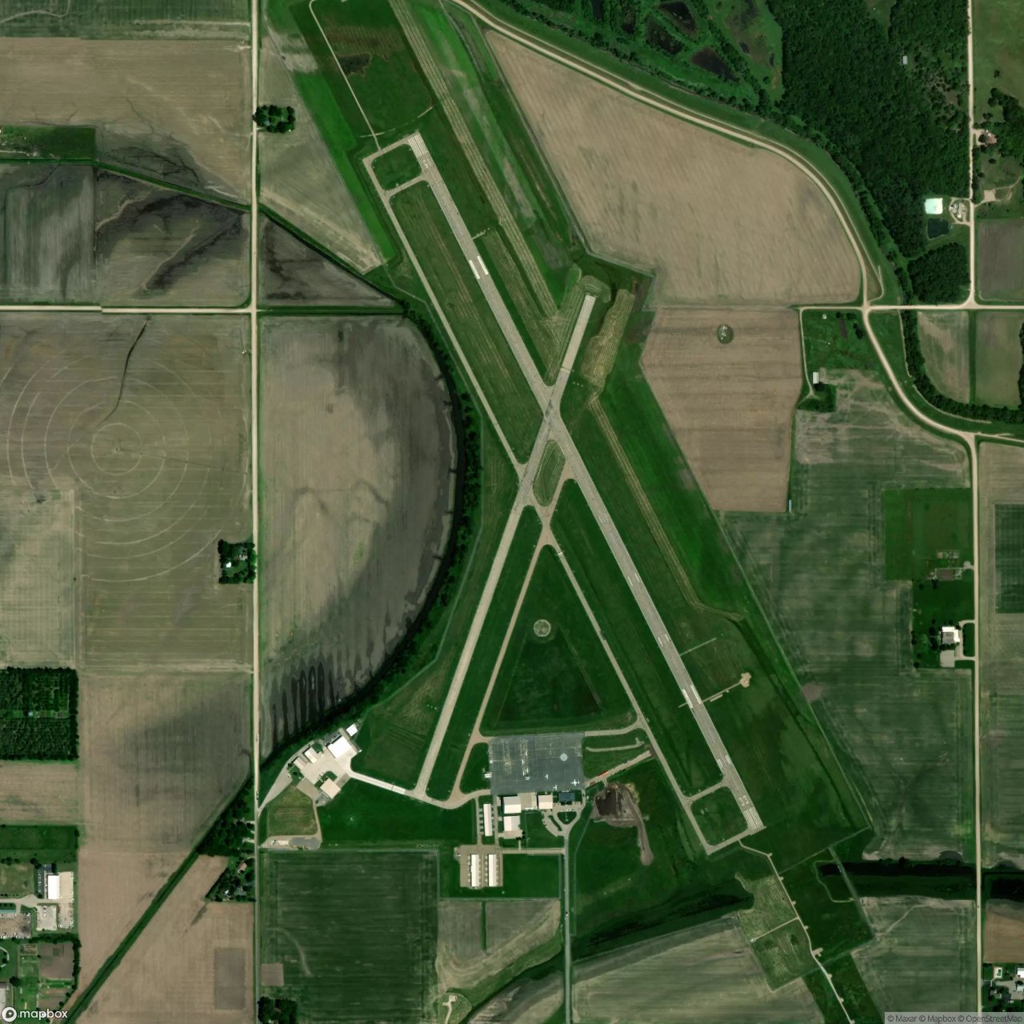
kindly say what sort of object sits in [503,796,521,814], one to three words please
hangar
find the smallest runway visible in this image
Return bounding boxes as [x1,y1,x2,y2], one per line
[413,294,596,796]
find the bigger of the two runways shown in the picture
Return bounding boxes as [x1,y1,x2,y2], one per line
[406,131,763,833]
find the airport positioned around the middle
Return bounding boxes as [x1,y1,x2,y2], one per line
[344,131,767,853]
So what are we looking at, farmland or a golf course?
farmland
